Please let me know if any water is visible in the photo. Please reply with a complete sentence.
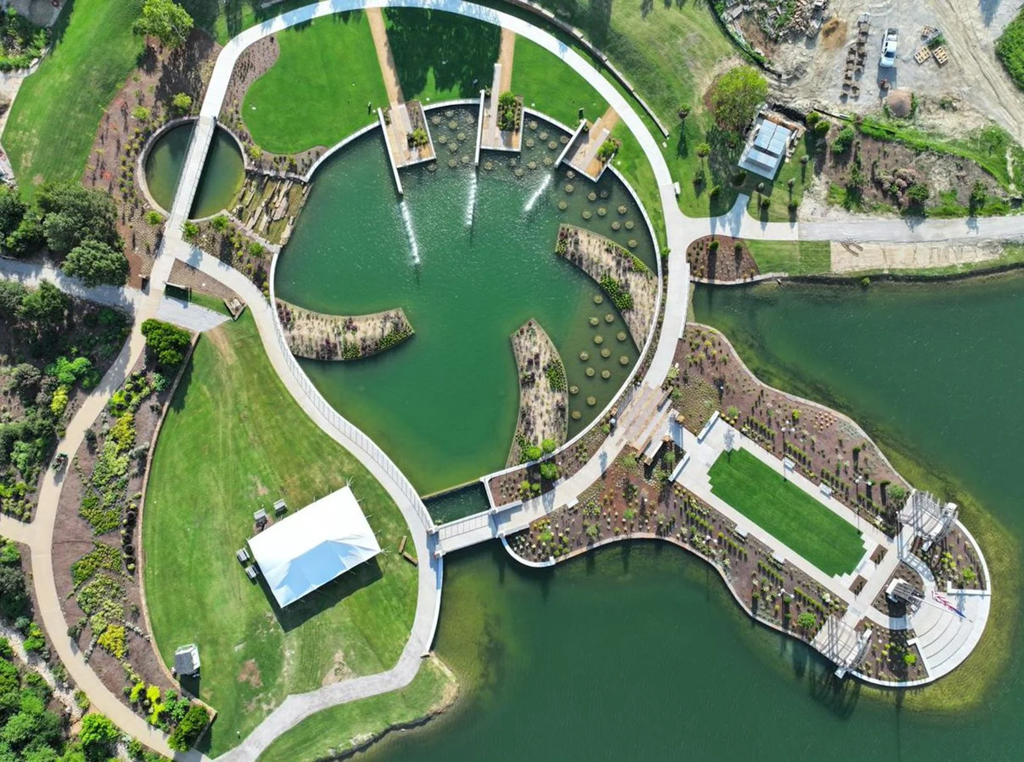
Yes, water shows up in the scene.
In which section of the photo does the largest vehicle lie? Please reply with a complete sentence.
The largest vehicle is in the top right part of the image.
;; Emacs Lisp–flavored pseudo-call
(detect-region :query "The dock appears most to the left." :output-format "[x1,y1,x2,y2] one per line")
[379,101,437,198]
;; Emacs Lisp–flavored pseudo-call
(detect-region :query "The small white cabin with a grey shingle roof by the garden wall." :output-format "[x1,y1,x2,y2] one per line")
[175,641,207,676]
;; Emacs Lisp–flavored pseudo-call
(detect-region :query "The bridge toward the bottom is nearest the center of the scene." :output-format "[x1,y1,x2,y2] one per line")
[427,500,529,559]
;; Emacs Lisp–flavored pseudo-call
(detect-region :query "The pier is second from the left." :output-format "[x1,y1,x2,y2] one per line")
[476,63,525,169]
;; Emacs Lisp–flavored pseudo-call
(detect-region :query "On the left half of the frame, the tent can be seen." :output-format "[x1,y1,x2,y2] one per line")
[245,480,392,607]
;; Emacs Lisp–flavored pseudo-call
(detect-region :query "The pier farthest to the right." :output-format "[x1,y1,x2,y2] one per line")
[554,119,619,184]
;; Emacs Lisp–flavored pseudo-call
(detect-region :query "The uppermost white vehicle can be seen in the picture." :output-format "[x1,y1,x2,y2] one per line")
[878,27,898,68]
